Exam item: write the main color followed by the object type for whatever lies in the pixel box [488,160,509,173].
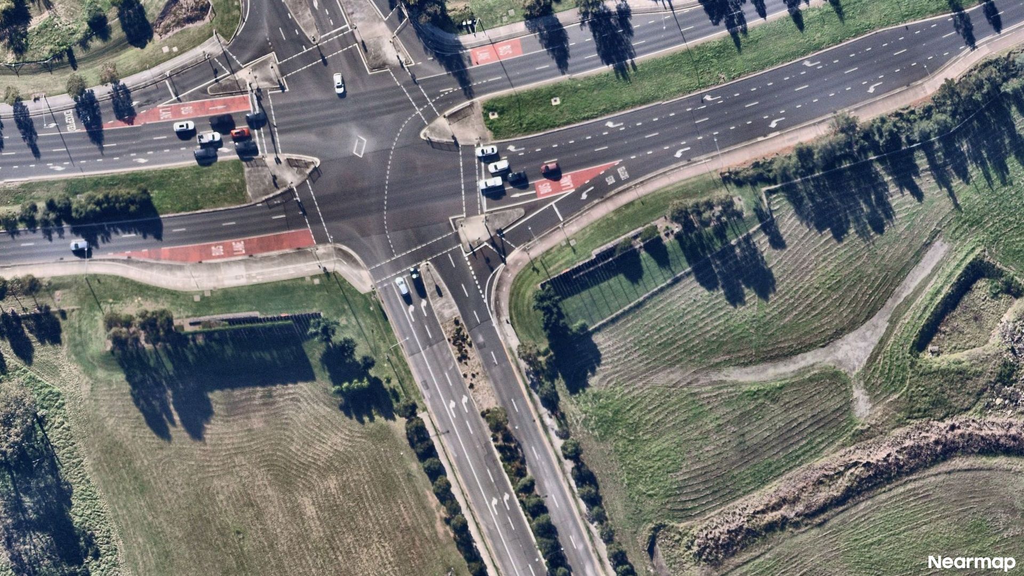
white vehicle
